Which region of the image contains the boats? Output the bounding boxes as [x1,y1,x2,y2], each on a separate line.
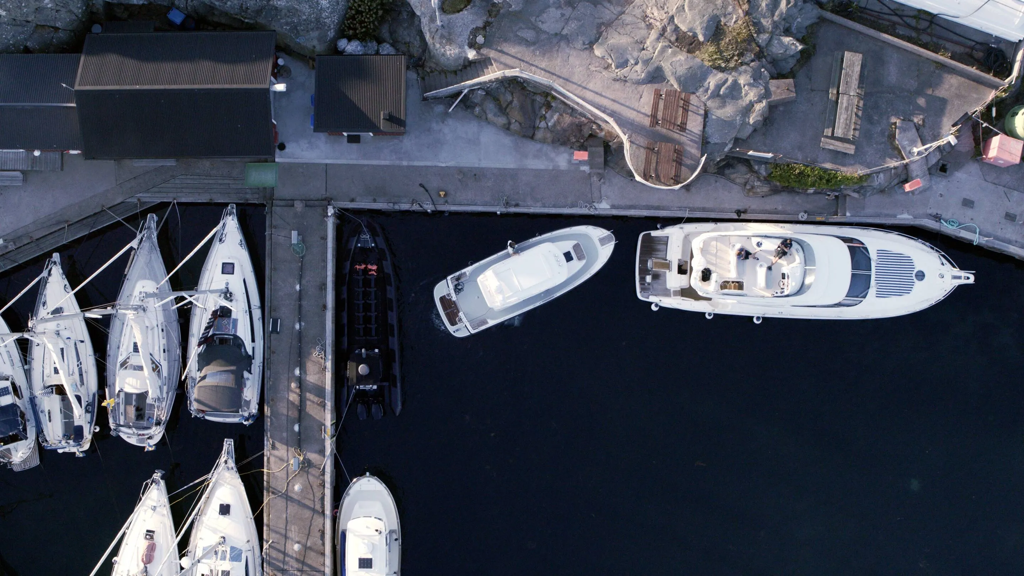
[156,439,264,576]
[338,216,403,422]
[0,252,103,454]
[335,471,402,576]
[138,204,265,421]
[24,208,186,447]
[0,288,42,471]
[91,470,183,576]
[434,225,618,337]
[635,222,976,320]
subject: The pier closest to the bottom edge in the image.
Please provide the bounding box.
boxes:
[264,203,339,576]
